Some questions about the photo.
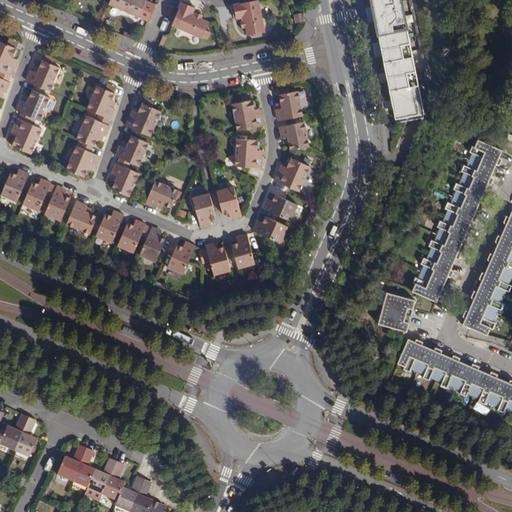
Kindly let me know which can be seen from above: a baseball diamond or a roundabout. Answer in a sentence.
Of the two, only a roundabout appears.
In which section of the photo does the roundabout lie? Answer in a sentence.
You can find the roundabout in the bottom area of the picture.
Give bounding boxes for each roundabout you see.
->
[182,322,346,486]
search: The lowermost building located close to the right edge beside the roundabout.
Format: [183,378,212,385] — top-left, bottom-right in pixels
[397,340,512,414]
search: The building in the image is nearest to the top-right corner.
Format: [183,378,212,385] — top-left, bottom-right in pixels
[368,0,426,124]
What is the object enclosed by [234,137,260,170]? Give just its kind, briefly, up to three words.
house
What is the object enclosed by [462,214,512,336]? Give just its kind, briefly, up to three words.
building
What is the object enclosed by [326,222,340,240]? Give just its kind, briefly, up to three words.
vehicle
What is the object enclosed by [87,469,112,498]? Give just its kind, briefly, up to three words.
house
